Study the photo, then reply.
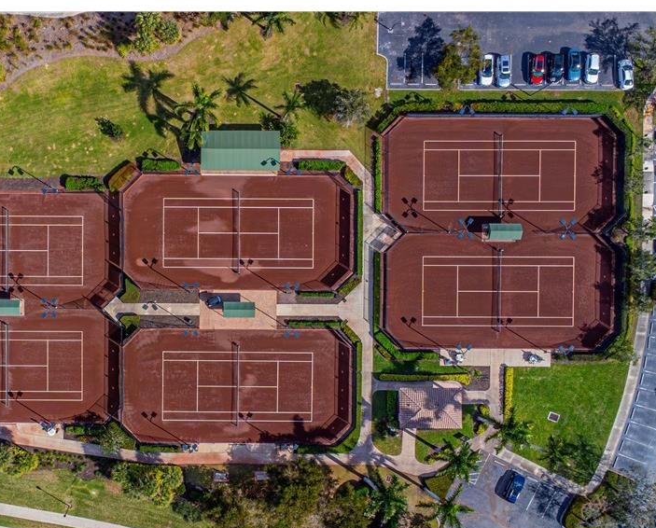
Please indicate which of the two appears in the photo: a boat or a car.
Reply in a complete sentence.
There is a car in the scene.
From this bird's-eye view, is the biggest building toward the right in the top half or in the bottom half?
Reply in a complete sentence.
The biggest building toward the right is in the bottom half of the image.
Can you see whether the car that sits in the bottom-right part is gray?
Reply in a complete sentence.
No, the car that sits in the bottom-right part is actually blue.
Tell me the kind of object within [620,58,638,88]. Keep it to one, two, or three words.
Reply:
car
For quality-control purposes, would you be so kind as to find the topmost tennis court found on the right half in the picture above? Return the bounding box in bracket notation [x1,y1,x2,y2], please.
[385,115,616,233]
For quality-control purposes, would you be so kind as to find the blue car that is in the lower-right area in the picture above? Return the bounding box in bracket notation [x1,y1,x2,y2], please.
[504,472,527,503]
